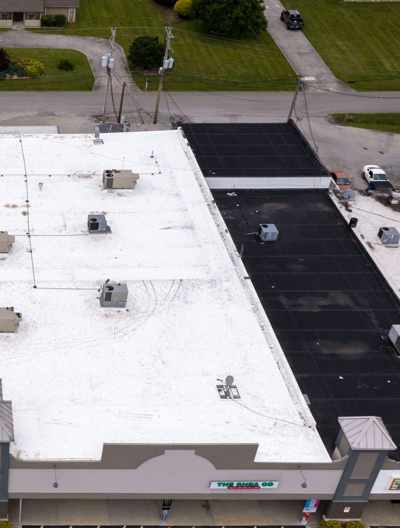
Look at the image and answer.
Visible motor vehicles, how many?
3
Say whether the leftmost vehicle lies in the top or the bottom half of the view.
top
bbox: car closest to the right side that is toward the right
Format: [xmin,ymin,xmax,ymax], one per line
[364,165,397,189]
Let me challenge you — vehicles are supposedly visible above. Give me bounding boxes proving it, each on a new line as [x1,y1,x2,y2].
[364,165,397,189]
[282,7,311,27]
[327,166,358,189]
